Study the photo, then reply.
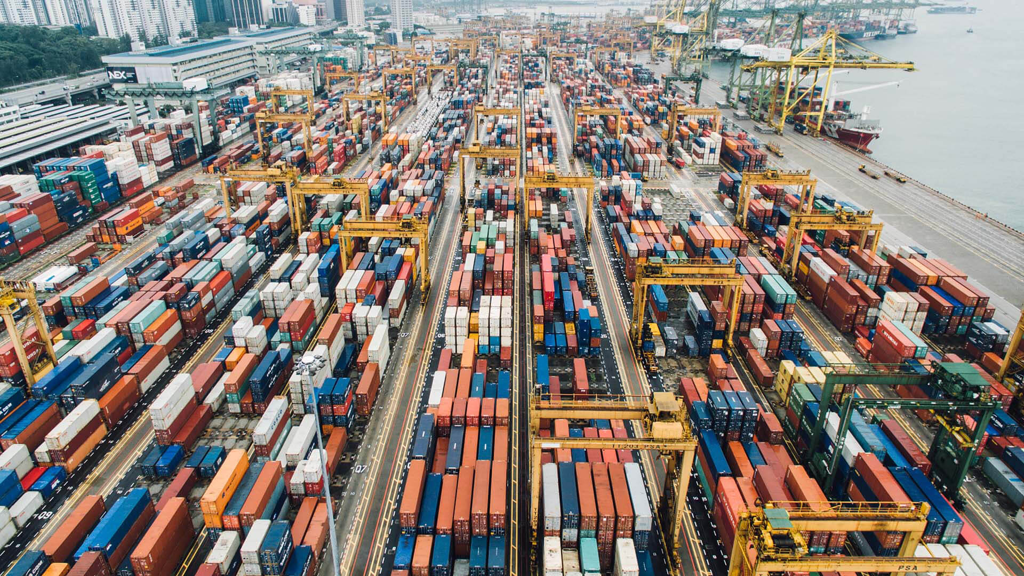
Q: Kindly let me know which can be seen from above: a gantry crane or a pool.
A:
gantry crane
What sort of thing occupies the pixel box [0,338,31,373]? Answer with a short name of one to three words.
shipping container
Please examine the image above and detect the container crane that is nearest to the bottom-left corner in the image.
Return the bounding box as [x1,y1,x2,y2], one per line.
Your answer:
[0,272,67,372]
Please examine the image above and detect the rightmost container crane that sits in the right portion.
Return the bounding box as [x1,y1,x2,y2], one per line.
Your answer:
[998,319,1024,424]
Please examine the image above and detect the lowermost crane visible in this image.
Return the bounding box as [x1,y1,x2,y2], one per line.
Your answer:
[715,498,958,576]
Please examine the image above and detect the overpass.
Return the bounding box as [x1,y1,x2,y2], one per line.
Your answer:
[0,56,107,107]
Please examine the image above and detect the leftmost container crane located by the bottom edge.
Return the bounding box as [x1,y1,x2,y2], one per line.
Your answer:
[526,389,692,553]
